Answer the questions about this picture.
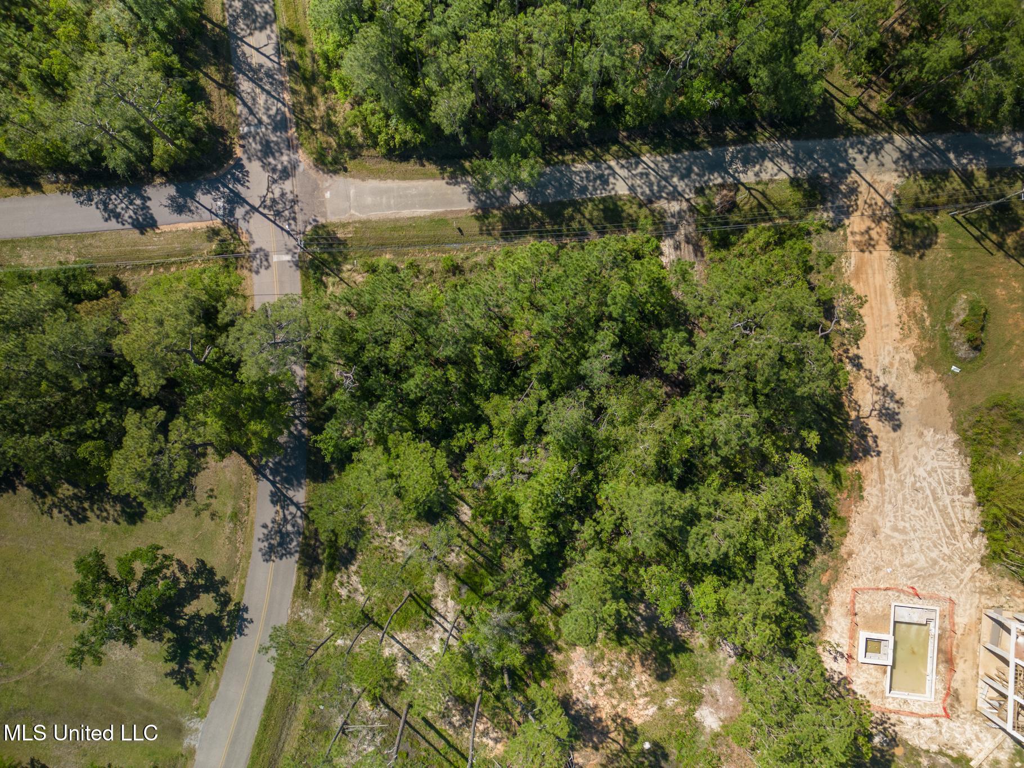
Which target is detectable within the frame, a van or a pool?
pool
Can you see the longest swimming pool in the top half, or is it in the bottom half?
bottom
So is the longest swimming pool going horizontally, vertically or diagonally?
vertically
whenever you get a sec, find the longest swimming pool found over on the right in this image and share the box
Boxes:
[884,602,942,702]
